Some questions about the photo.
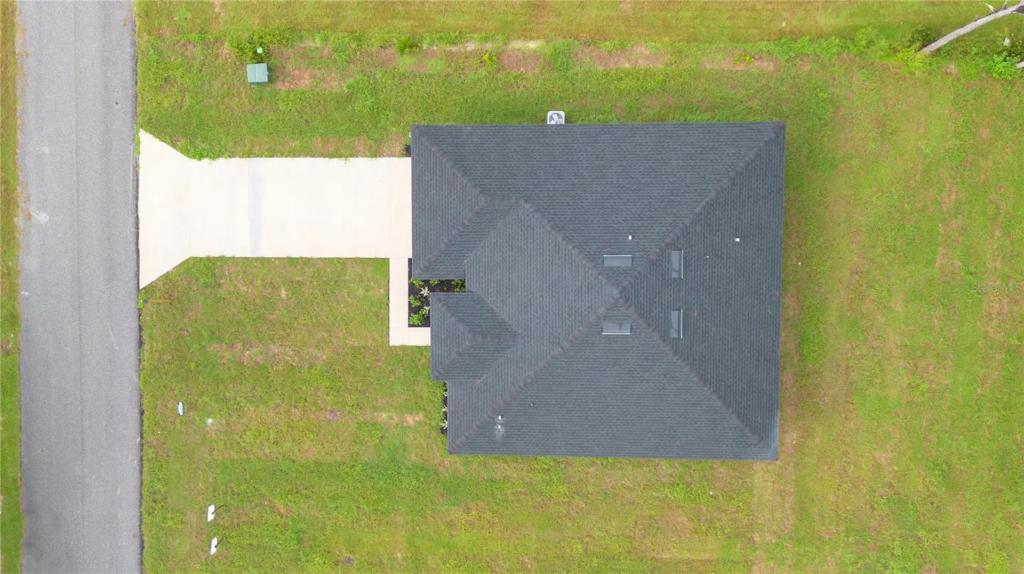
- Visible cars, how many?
0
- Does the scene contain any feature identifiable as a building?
Yes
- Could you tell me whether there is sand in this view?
No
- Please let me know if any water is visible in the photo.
No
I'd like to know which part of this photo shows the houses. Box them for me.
[409,119,786,462]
